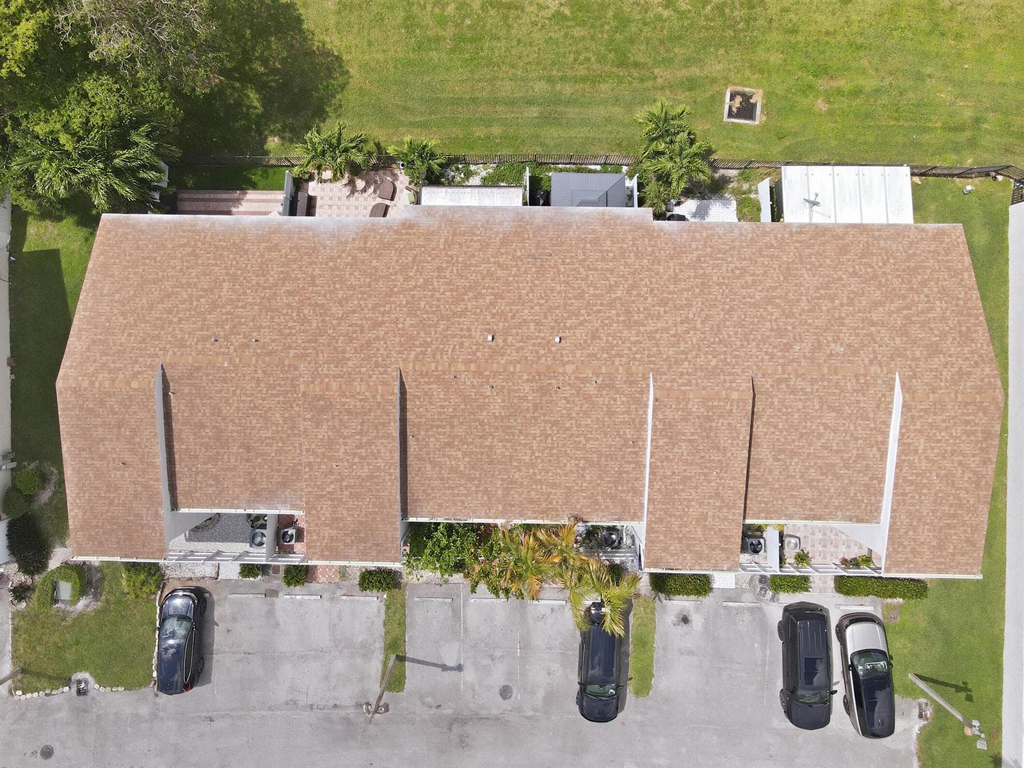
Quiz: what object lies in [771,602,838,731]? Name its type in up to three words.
car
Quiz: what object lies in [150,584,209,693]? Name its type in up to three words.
car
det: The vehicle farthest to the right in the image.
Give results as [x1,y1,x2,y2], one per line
[828,609,900,733]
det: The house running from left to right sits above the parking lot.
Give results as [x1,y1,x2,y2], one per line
[55,205,1005,582]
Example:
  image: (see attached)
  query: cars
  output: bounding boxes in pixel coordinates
[828,609,900,733]
[771,602,838,731]
[573,602,627,722]
[150,584,209,693]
